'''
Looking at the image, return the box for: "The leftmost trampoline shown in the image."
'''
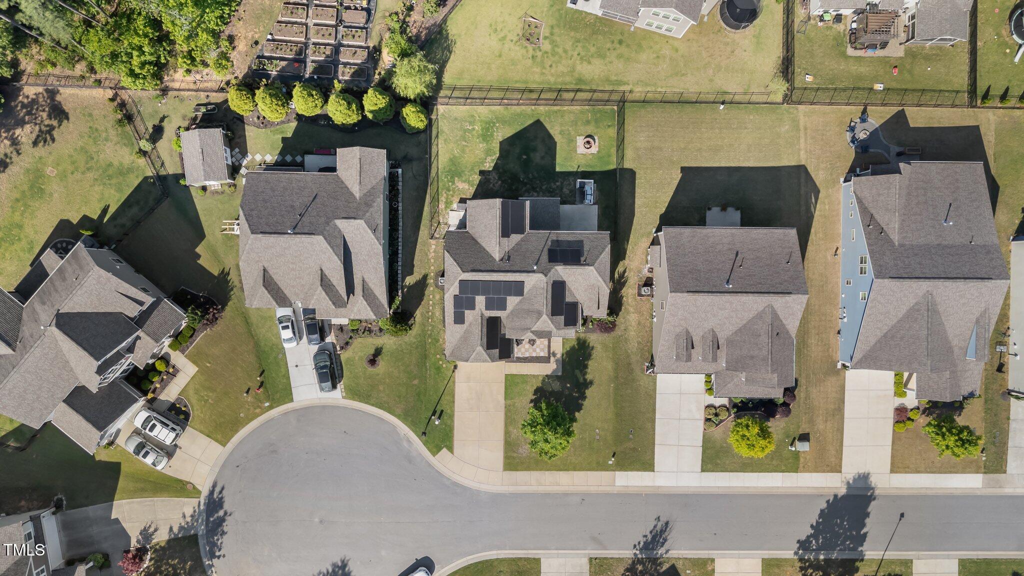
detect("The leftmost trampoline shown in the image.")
[718,0,764,29]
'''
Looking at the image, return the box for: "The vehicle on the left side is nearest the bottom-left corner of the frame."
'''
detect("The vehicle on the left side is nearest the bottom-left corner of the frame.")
[127,432,170,467]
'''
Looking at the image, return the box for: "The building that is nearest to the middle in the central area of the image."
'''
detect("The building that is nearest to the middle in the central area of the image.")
[445,197,610,362]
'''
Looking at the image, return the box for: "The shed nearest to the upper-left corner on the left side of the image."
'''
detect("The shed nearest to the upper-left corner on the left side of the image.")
[179,128,234,185]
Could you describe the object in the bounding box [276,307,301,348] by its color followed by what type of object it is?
white car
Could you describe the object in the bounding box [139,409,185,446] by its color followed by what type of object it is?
white car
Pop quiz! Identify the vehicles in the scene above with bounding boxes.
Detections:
[406,565,430,576]
[276,307,301,348]
[127,432,170,467]
[304,307,329,345]
[139,409,185,446]
[315,345,340,389]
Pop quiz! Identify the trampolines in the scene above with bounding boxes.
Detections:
[718,0,764,29]
[1006,9,1024,45]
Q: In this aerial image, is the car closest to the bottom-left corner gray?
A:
Yes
